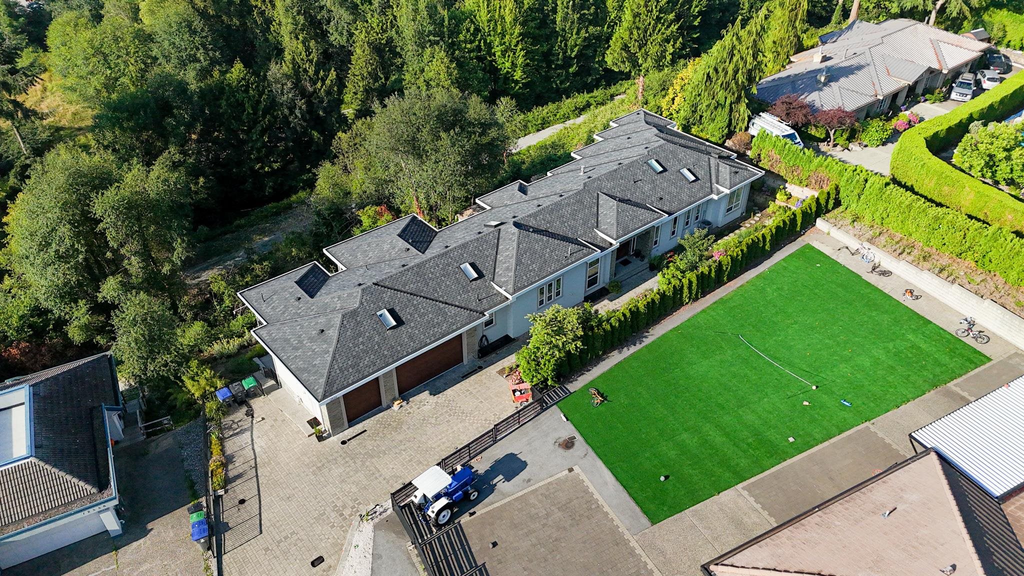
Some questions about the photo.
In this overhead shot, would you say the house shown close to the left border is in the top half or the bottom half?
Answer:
bottom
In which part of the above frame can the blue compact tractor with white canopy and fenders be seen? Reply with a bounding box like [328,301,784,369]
[416,472,481,528]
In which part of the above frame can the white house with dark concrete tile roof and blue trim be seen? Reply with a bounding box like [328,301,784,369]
[0,359,137,576]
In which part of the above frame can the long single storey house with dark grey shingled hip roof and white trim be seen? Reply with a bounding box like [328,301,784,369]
[235,107,770,437]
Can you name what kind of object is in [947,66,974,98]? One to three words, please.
car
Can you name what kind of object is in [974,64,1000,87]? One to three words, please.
car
